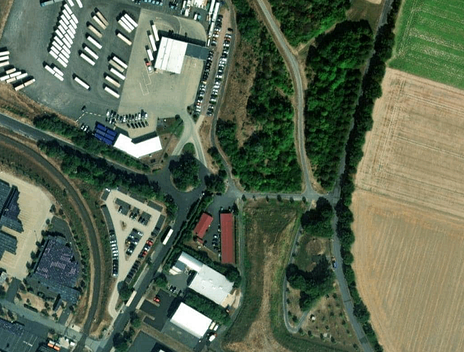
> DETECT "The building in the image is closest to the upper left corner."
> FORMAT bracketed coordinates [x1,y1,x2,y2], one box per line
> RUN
[154,36,188,76]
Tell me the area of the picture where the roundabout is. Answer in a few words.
center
